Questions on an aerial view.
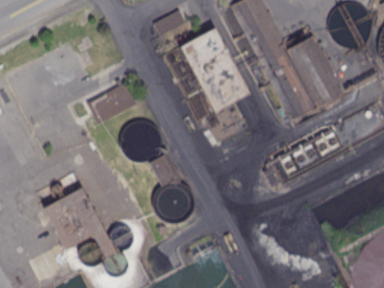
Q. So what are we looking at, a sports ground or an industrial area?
industrial area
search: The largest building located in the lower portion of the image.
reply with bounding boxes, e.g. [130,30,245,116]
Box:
[42,189,118,262]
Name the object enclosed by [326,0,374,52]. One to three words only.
storage tank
